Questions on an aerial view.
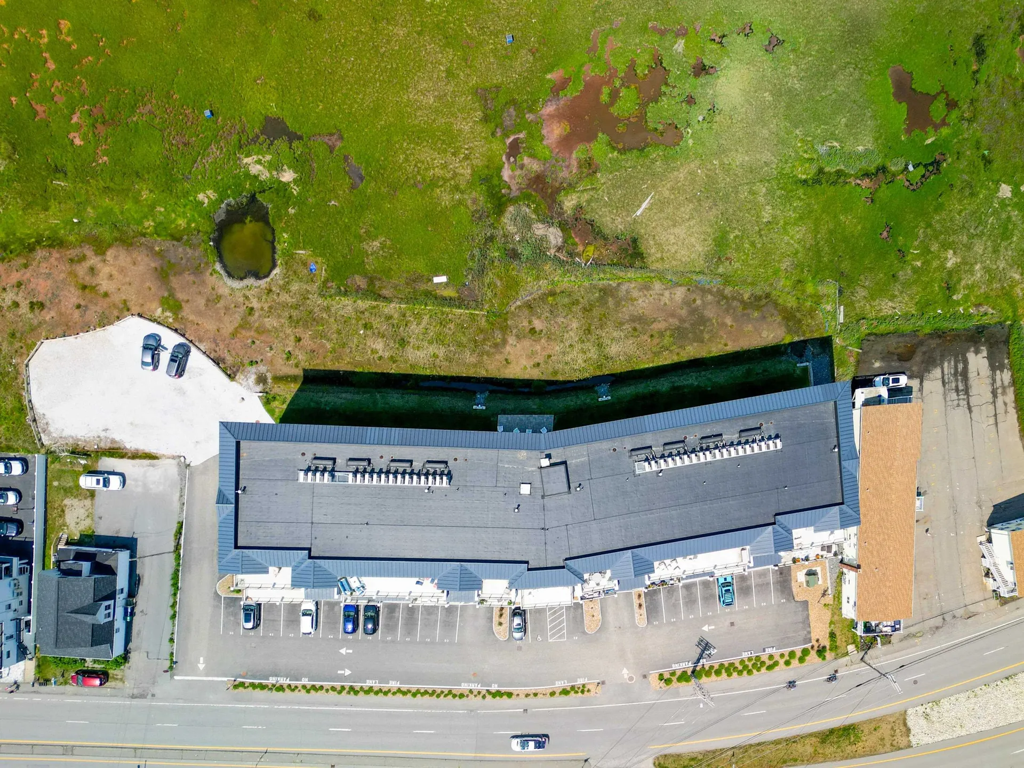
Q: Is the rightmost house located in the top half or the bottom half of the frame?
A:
bottom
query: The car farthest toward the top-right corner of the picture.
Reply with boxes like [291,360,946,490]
[871,373,907,388]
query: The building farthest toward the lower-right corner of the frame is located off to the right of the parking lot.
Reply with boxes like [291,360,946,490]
[978,514,1024,600]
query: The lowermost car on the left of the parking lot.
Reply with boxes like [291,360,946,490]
[73,669,107,686]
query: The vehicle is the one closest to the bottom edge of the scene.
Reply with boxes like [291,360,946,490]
[510,732,548,752]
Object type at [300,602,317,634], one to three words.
car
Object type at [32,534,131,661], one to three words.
house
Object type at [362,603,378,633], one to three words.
car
